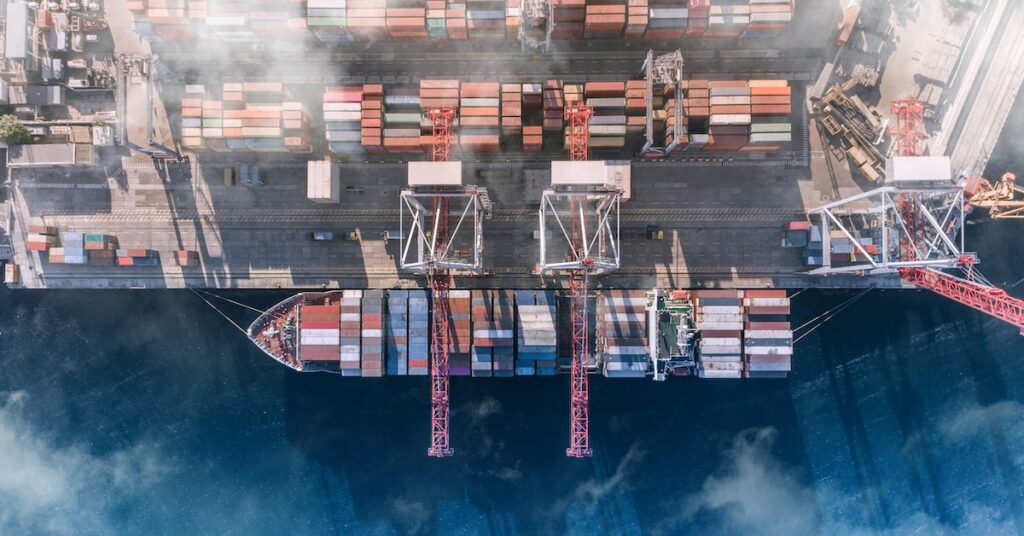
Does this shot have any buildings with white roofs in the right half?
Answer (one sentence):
No, I can find no building with a white roof in the right half.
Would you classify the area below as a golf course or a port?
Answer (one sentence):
This looks like a port.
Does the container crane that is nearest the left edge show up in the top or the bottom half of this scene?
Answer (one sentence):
Seen from above, the container crane that is nearest the left edge lies in the top half of the view.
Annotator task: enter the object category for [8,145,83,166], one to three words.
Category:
building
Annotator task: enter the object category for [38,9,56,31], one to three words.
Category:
building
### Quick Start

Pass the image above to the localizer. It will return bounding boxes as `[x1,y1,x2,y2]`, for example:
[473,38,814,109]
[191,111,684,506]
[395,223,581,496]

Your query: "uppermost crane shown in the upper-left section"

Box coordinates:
[117,53,184,156]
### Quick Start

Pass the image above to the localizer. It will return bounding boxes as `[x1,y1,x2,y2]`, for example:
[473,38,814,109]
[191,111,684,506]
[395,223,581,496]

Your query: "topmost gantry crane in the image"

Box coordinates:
[515,0,554,56]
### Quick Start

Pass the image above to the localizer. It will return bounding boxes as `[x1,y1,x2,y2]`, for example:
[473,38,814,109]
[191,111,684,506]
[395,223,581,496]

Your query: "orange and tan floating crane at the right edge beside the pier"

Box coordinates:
[961,172,1024,210]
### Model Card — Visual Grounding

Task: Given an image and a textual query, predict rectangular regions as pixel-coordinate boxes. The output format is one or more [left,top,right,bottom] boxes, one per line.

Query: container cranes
[797,101,1024,332]
[399,101,495,457]
[117,53,184,156]
[634,49,683,156]
[525,101,628,457]
[515,0,554,56]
